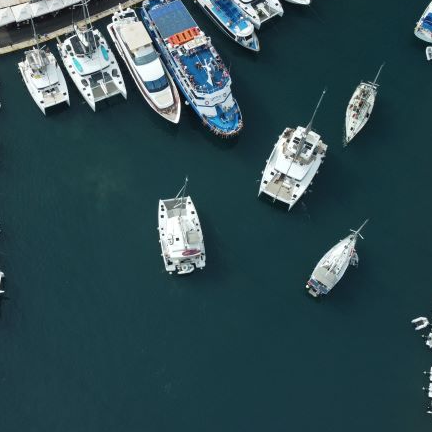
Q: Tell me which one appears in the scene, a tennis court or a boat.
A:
boat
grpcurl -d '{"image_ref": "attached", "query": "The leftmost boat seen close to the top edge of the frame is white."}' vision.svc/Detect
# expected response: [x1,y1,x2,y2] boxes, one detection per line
[20,18,71,124]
